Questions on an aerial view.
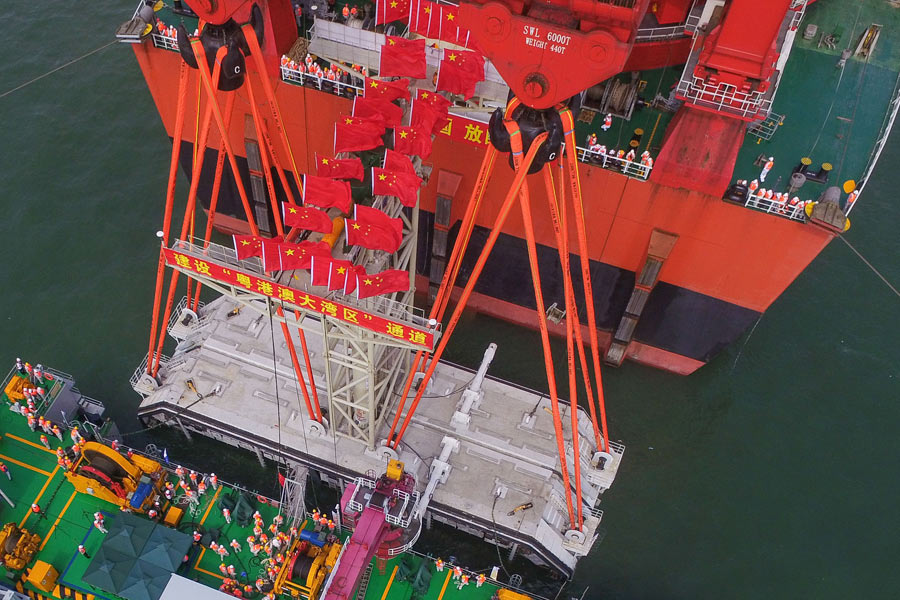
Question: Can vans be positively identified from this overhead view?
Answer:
No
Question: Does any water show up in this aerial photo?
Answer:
Yes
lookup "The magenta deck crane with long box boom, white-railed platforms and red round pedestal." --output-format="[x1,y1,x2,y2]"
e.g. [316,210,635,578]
[304,452,432,600]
